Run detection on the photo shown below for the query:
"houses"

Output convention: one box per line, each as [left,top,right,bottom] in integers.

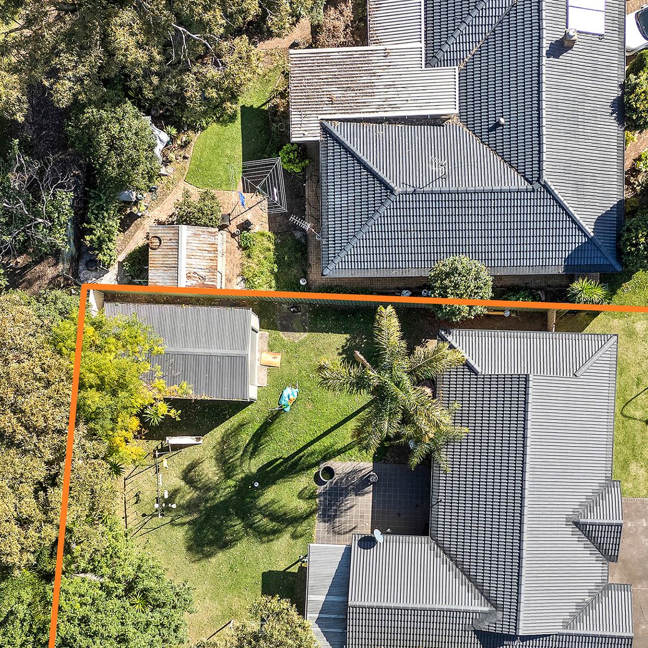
[289,0,626,279]
[304,329,633,648]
